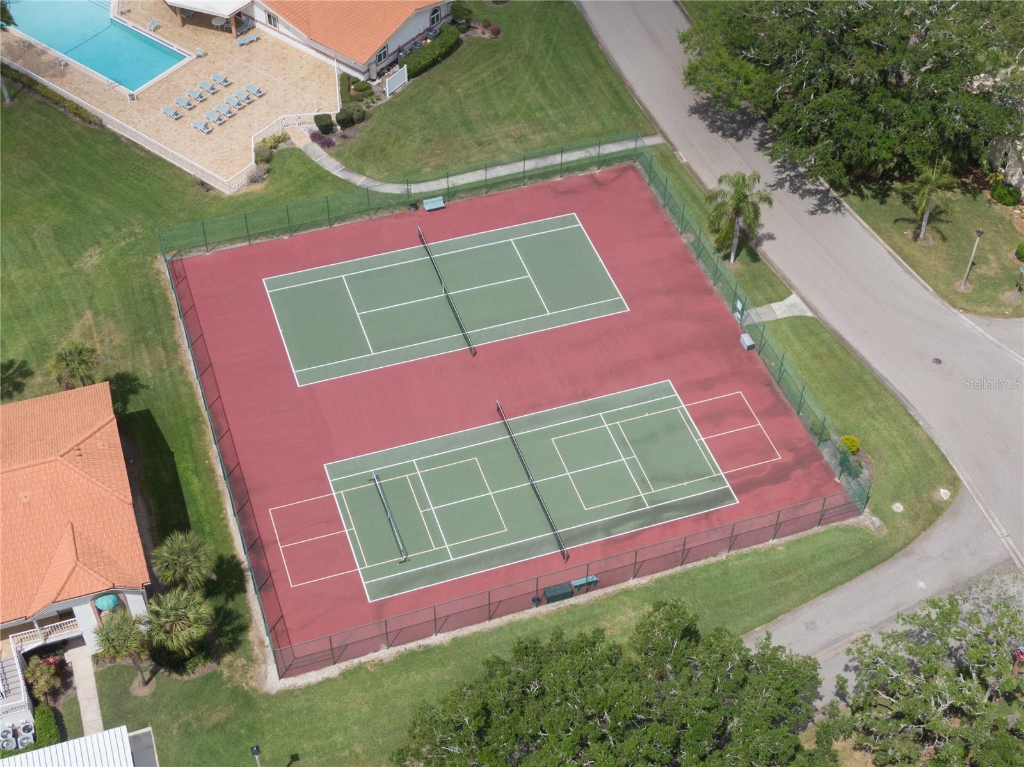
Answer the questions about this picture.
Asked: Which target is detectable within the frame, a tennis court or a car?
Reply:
tennis court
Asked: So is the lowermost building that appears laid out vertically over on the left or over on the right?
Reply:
left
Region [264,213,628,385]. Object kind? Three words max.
tennis court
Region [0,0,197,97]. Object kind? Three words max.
swimming pool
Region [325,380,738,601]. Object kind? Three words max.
tennis court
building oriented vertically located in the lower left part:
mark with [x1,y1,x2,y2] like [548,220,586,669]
[0,382,158,740]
